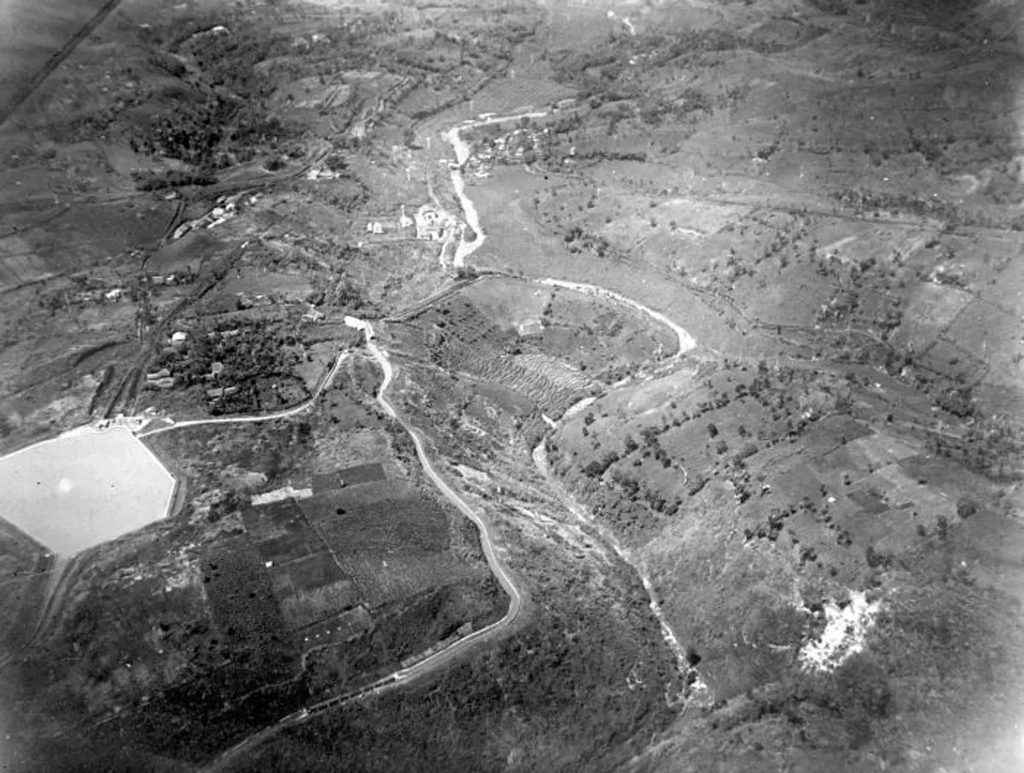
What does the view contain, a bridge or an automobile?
bridge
